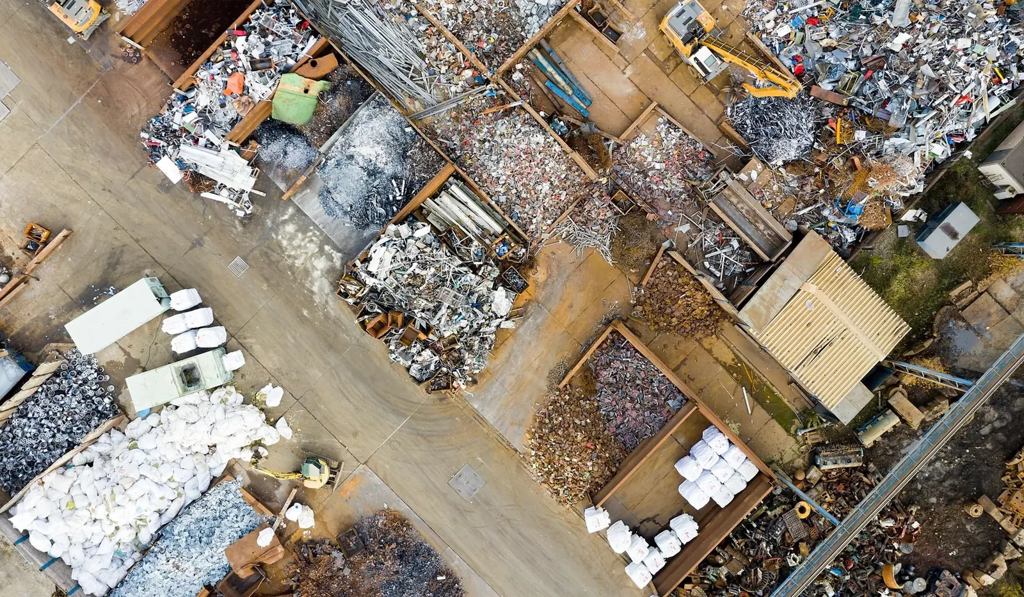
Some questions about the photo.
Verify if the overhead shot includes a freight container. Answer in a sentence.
Yes, the picture does show a freight container.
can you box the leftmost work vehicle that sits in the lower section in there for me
[257,448,352,495]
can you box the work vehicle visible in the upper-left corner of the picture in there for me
[35,0,121,42]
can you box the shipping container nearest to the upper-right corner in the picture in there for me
[893,201,981,262]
